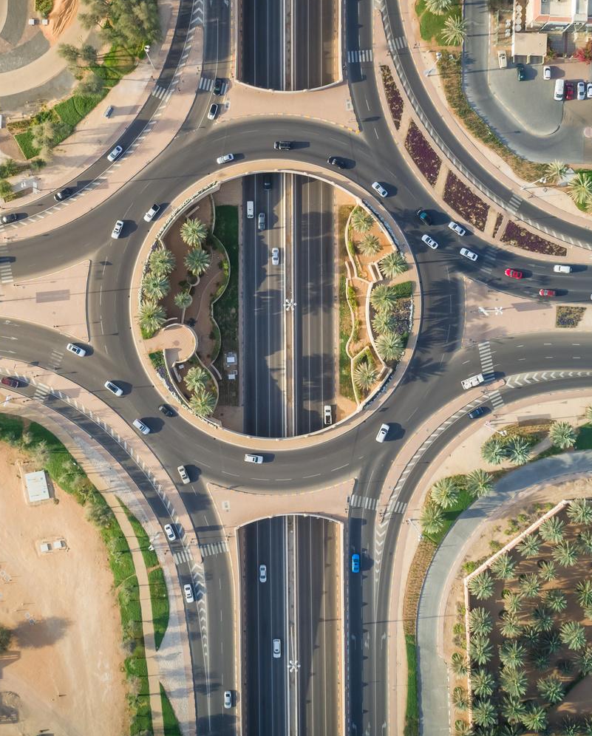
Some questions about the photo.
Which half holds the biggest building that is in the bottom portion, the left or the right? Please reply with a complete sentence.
The biggest building that is in the bottom portion sits on the left side.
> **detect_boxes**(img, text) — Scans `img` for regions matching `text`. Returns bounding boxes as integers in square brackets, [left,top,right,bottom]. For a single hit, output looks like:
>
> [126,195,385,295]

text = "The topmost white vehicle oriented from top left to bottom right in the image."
[371,182,387,198]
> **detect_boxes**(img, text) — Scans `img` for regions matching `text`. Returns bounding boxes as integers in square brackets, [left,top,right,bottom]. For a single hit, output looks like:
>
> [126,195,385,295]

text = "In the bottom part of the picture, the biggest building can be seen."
[25,468,52,503]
